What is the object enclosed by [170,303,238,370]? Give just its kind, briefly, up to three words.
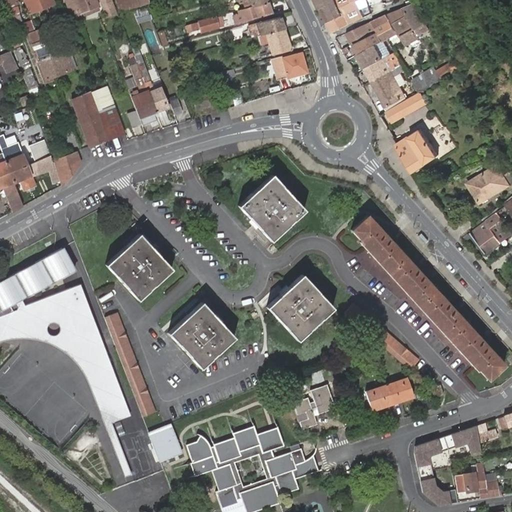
building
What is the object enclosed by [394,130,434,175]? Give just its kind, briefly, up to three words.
house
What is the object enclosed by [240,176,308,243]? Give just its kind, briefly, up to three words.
building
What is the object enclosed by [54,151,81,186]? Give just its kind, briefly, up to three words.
house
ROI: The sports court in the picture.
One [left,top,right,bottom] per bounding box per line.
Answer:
[0,352,88,444]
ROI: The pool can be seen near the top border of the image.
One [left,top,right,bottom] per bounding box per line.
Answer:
[140,20,163,56]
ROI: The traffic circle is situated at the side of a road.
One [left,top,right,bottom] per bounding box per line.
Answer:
[303,94,374,164]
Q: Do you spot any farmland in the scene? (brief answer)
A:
No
